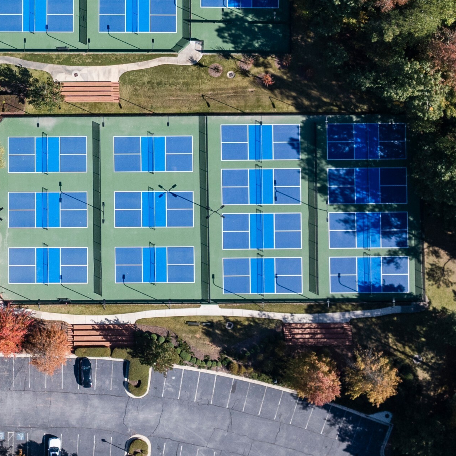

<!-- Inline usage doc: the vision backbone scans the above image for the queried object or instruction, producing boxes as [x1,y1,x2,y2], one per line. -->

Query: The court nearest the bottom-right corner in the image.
[329,255,410,296]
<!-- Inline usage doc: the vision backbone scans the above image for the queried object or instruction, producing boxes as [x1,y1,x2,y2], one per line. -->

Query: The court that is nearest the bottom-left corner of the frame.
[9,245,88,286]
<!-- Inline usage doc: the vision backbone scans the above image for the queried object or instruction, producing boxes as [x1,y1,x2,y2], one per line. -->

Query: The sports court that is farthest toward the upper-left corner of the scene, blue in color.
[0,0,74,34]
